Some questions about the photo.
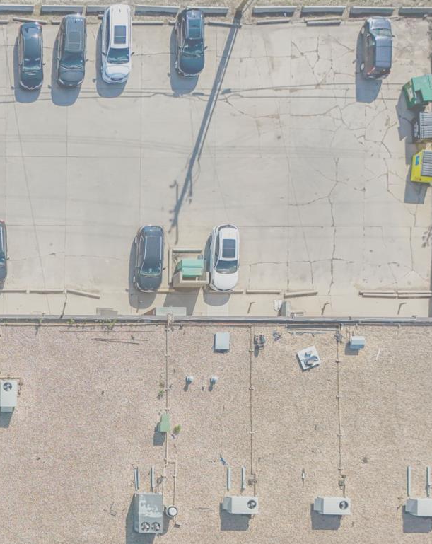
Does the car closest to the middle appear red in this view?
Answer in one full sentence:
No, the color of the car closest to the middle is white.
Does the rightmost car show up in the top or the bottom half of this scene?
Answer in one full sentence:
The rightmost car sits in the top half of the picture.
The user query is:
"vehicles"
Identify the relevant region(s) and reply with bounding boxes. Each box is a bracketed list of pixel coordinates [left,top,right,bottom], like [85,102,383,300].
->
[15,22,48,93]
[134,226,168,294]
[208,224,242,293]
[55,14,89,88]
[101,6,136,85]
[0,219,11,284]
[175,9,209,79]
[357,17,397,82]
